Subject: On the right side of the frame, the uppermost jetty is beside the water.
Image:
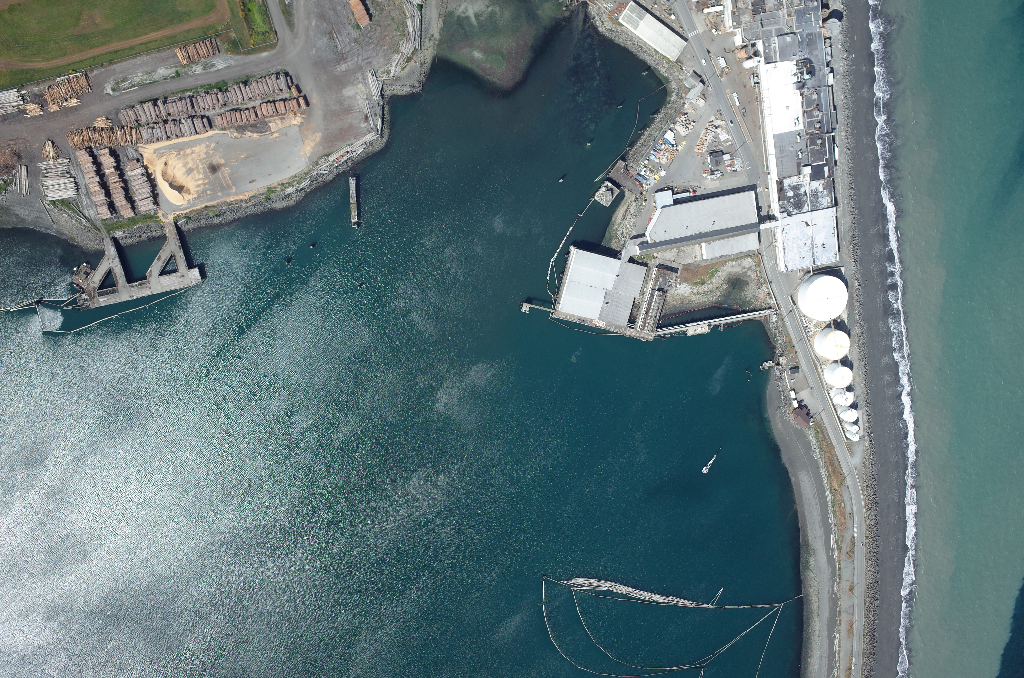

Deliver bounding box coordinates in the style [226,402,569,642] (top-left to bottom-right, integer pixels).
[609,160,643,197]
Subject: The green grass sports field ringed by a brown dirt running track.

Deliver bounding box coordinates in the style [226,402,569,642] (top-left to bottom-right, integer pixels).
[0,0,275,89]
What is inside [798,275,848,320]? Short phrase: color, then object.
white storage tank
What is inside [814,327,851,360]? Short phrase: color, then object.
white storage tank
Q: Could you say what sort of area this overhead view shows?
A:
port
